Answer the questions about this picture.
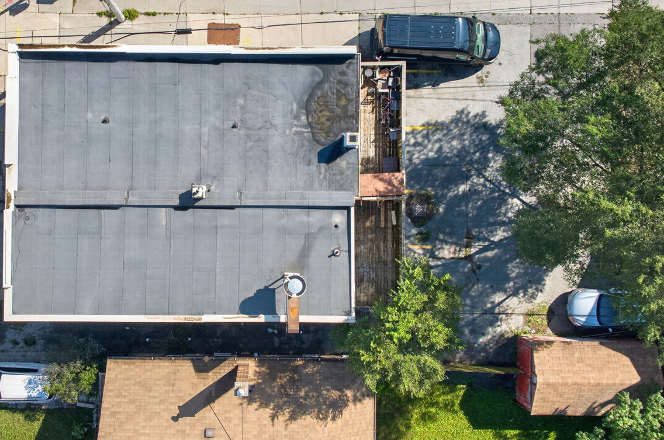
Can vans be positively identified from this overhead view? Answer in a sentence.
Yes, a van appears in the view.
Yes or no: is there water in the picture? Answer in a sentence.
No, the picture contains no water.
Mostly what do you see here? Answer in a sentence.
What you mostly see from above here is buildings.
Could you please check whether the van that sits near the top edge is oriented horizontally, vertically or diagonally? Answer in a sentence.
The van that sits near the top edge has been laid out horizontally relative to the frame.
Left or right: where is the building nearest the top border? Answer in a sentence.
The building nearest the top border is on the left side of the image.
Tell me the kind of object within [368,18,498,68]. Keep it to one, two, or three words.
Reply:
van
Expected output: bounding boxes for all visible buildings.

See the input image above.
[518,333,664,415]
[4,44,360,322]
[89,350,378,440]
